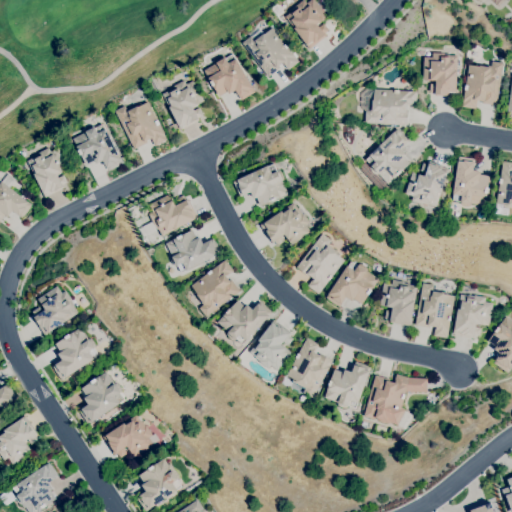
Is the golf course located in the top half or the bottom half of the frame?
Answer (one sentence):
The golf course is in the top half of the image.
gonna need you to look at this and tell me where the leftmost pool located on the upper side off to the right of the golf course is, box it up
[382,68,400,83]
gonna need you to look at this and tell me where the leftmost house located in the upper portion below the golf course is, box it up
[0,173,32,222]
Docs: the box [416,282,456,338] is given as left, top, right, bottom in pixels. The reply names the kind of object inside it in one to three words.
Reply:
house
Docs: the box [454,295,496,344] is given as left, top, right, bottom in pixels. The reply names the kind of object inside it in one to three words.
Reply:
house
